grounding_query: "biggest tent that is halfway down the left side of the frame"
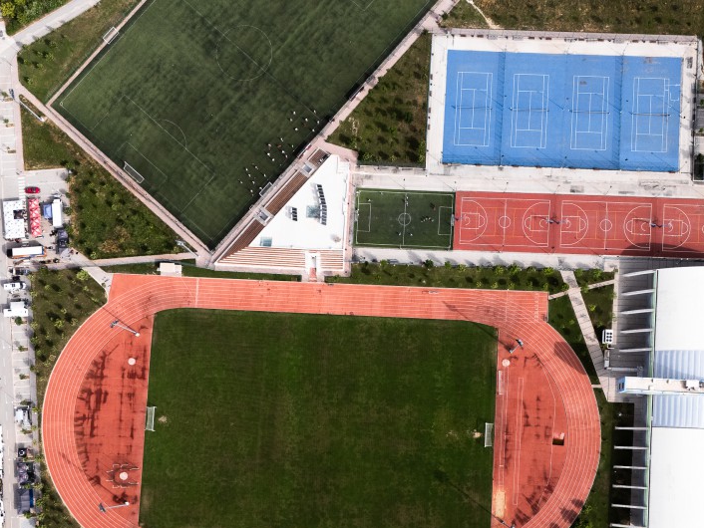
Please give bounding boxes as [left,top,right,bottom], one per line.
[3,200,29,240]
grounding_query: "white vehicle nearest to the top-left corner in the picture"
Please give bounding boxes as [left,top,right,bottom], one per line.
[51,198,67,229]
